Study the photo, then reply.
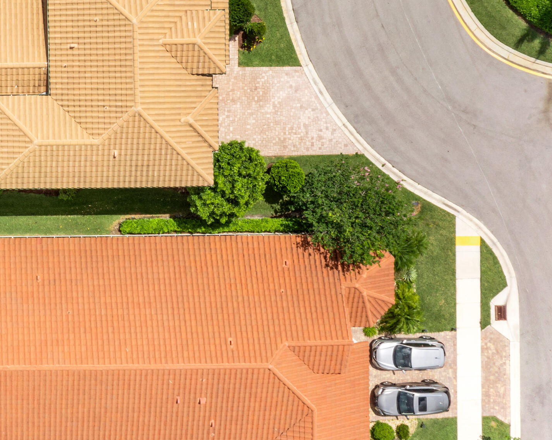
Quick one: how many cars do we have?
2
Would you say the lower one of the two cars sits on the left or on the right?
right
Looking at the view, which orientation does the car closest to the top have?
from left to right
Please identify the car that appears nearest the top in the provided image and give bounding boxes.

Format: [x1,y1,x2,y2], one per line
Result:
[371,335,450,373]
